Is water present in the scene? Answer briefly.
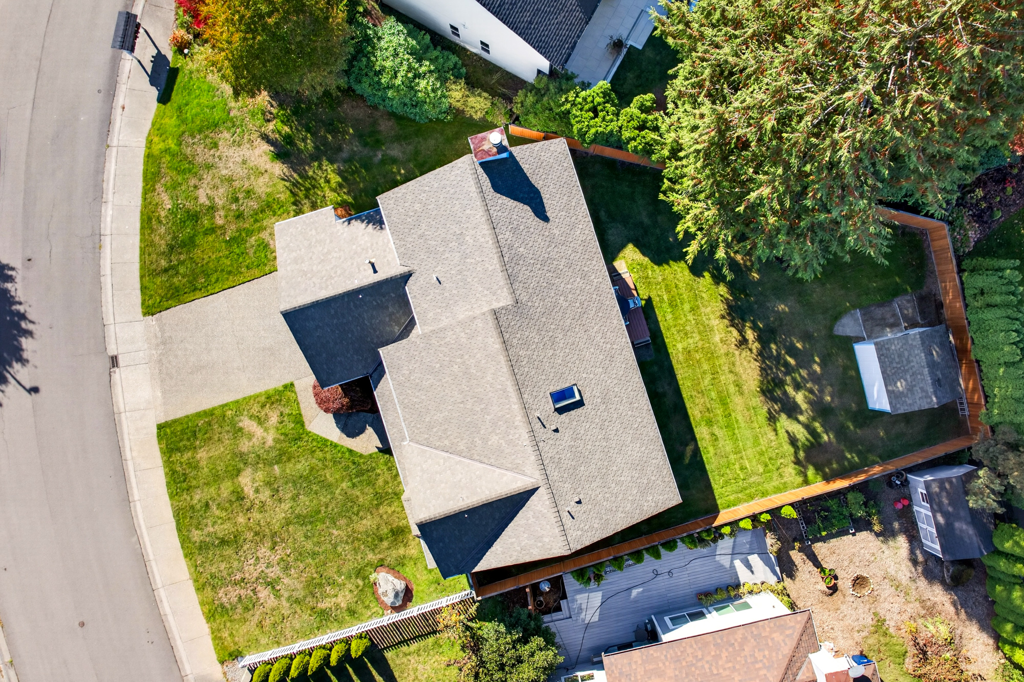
No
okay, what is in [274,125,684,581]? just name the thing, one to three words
house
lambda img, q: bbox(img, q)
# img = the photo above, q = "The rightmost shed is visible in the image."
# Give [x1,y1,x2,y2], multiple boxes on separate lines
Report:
[909,464,1005,563]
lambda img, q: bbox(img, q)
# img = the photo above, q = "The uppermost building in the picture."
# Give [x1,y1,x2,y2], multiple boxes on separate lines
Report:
[380,0,599,92]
